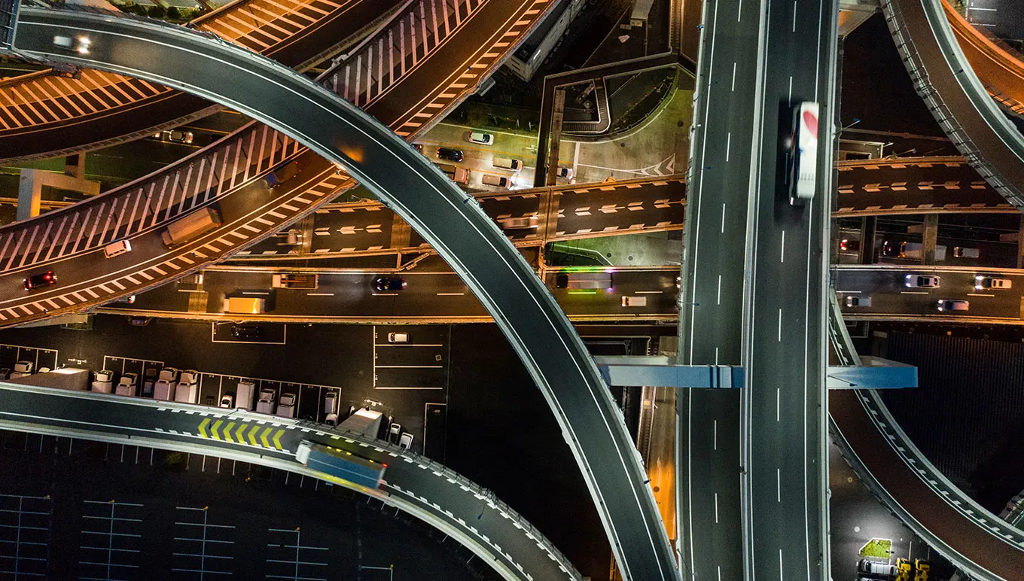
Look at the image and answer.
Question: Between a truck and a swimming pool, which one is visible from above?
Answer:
truck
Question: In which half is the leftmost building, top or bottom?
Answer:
top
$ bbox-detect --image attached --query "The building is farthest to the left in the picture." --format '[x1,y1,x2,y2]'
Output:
[508,0,584,81]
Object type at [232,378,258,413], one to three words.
truck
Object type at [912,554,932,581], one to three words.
work vehicle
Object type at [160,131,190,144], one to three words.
vehicle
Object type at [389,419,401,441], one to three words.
vehicle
